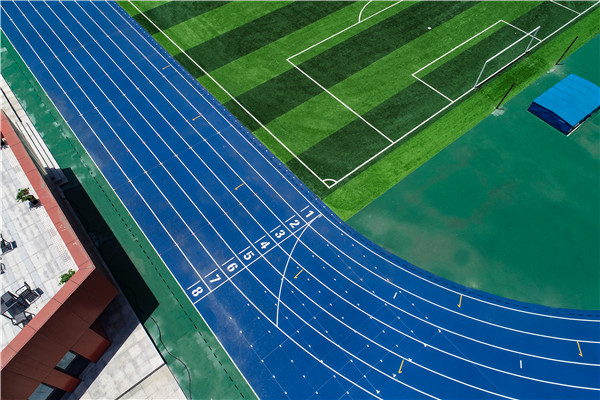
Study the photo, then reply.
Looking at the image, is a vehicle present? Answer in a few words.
No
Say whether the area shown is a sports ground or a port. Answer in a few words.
sports ground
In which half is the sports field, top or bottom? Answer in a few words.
top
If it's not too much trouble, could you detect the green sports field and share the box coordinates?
[115,0,600,220]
